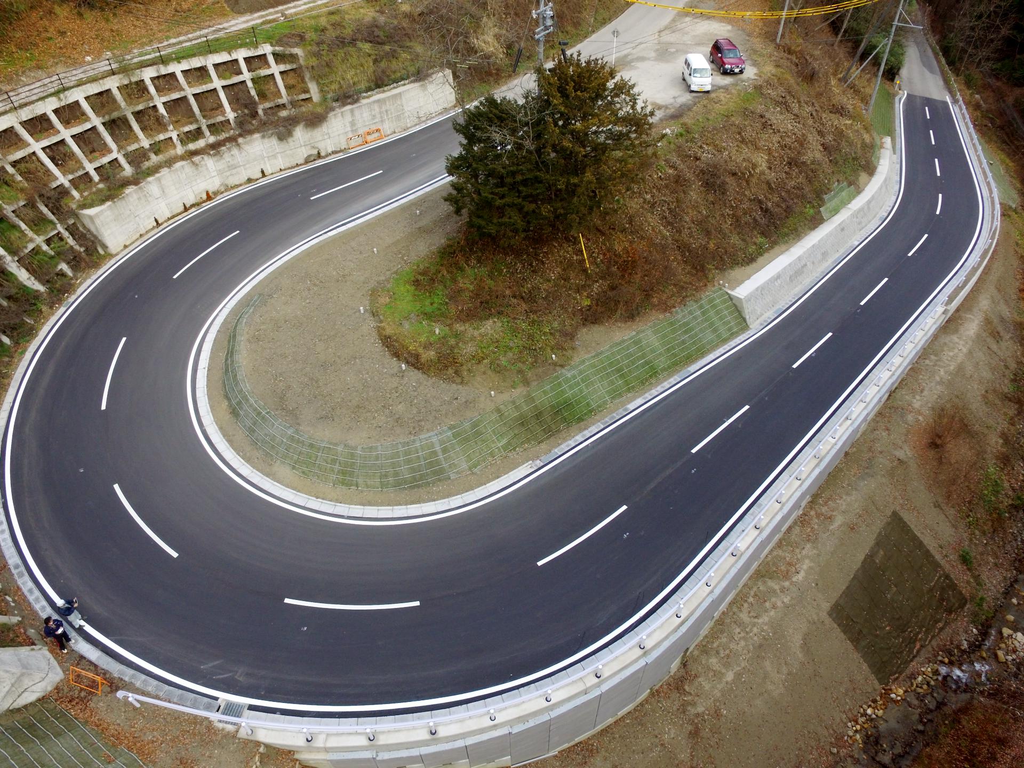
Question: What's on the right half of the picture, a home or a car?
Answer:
car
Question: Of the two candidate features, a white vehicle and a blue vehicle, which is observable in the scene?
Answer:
white vehicle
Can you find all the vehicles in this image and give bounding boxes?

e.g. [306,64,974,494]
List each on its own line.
[712,29,751,65]
[686,46,717,85]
